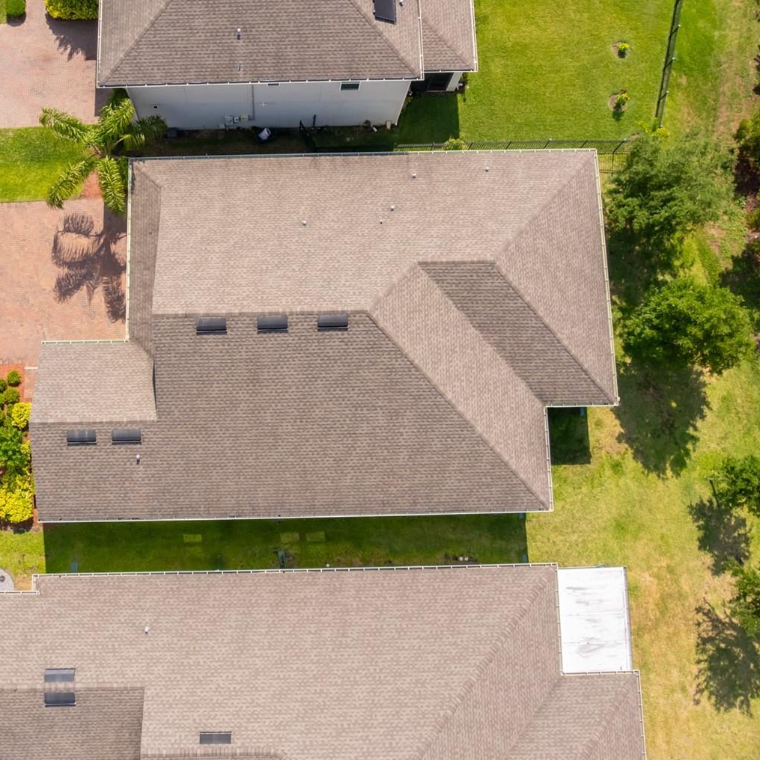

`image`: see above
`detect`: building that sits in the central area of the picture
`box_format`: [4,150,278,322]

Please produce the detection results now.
[29,147,622,523]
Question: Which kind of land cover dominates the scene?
buildings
